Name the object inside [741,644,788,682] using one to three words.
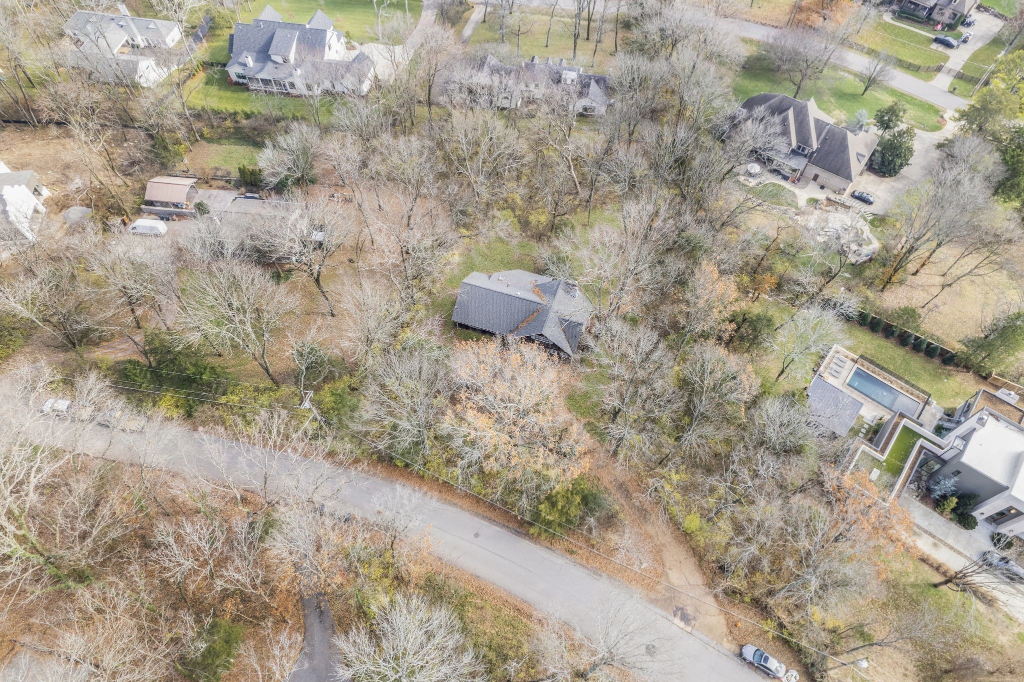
car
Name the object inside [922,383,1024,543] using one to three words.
house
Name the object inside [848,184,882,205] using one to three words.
car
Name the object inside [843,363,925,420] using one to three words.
swimming pool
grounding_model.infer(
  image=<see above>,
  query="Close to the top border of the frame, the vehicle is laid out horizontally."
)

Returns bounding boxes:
[932,30,964,47]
